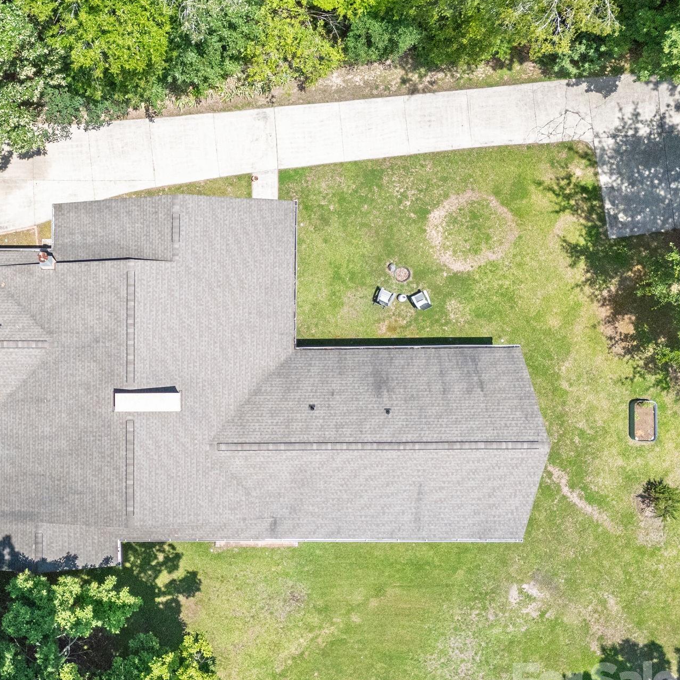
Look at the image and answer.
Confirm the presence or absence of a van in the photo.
No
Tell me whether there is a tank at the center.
No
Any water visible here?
No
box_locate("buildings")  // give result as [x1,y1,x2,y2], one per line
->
[0,190,553,571]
